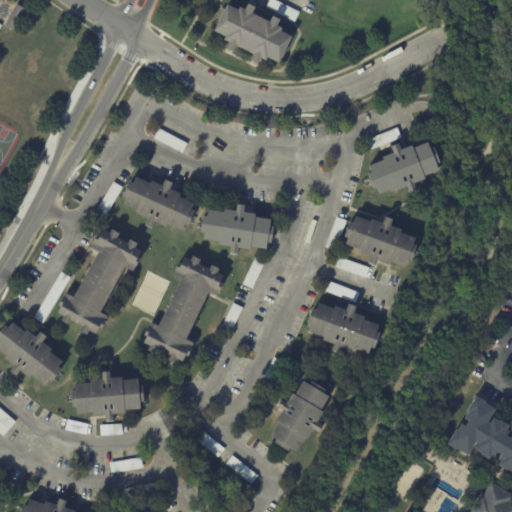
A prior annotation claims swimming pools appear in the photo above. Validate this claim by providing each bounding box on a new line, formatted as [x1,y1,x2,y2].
[438,480,464,500]
[437,497,458,512]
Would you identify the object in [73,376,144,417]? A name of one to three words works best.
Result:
building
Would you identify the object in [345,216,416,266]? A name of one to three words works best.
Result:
building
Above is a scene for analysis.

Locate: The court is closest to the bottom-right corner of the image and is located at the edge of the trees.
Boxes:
[397,464,424,500]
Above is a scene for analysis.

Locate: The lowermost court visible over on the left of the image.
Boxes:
[132,270,170,316]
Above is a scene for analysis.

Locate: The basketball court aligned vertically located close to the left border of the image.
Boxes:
[0,120,24,175]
